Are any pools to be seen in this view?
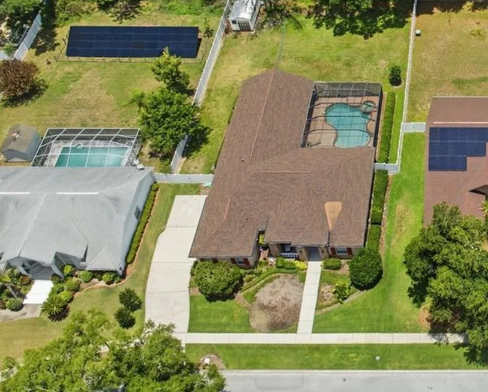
Yes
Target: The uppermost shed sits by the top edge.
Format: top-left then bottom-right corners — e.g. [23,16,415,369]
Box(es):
[229,0,263,26]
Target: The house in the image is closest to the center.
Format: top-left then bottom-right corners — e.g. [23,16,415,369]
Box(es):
[189,71,376,266]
